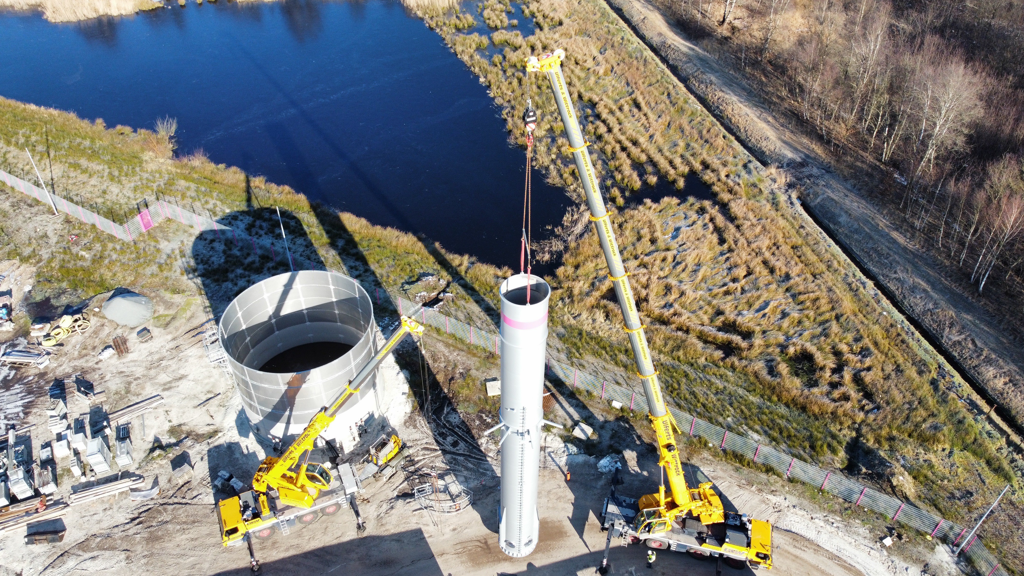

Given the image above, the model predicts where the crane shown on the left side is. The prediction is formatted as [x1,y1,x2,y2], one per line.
[208,322,436,575]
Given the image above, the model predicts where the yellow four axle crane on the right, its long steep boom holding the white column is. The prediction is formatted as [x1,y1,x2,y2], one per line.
[524,51,784,576]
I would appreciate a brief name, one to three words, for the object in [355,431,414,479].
trailer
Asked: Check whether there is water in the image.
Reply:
Yes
